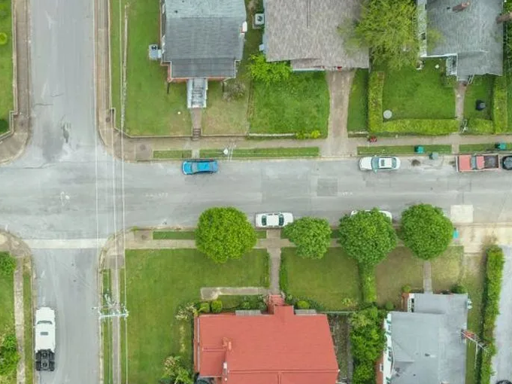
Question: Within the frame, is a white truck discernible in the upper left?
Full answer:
No, there's no white truck to be seen in the upper left.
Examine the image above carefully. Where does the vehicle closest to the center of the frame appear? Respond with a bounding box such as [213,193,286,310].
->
[255,211,294,229]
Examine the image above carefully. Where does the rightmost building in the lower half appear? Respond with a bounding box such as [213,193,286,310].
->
[370,290,476,384]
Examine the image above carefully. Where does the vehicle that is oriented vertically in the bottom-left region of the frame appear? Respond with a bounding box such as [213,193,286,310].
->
[33,304,58,371]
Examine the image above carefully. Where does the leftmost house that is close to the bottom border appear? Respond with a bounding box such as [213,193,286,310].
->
[197,294,339,384]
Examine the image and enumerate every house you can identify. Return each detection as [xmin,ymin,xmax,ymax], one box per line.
[260,0,369,74]
[197,294,339,384]
[417,0,512,86]
[161,0,247,108]
[370,290,476,384]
